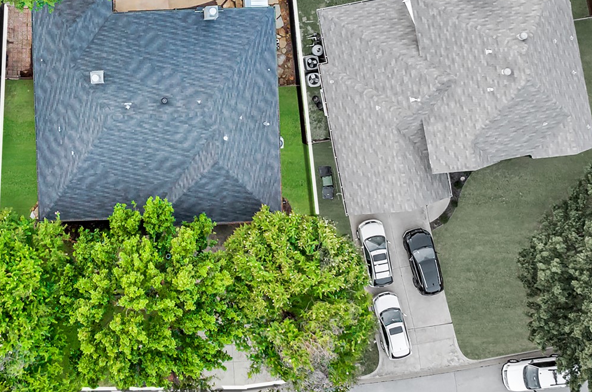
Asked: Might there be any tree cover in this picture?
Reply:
Yes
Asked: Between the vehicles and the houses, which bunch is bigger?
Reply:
vehicles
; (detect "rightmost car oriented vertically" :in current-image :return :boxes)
[402,227,443,297]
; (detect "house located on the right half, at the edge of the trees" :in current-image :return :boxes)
[316,0,592,215]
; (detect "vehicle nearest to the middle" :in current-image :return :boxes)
[355,220,393,287]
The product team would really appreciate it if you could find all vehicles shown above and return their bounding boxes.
[371,291,410,359]
[500,355,577,392]
[355,220,393,287]
[402,227,443,297]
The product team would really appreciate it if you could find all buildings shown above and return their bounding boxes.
[33,0,284,221]
[316,0,592,215]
